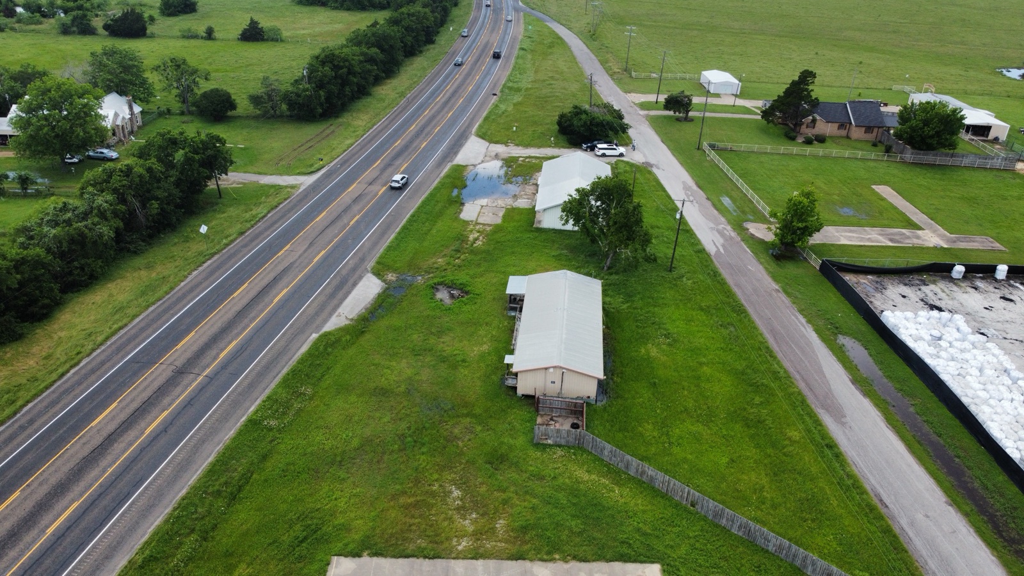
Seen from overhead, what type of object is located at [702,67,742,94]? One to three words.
building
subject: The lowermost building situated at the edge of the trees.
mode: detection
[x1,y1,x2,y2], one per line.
[503,270,605,402]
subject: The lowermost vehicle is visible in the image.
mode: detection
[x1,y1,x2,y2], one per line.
[387,174,408,188]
